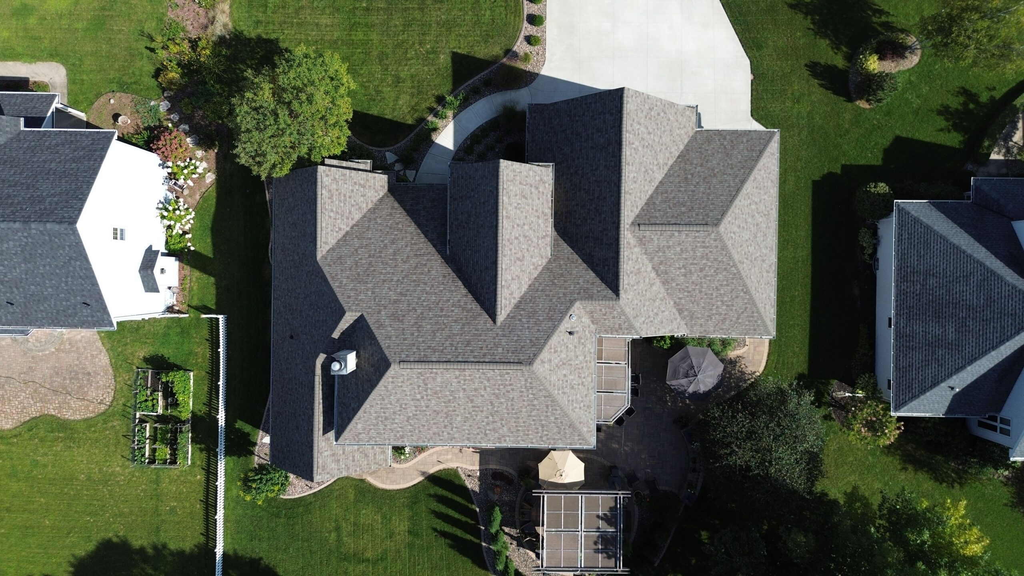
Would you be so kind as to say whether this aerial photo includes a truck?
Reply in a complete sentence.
No, there appears to be no truck in this shot.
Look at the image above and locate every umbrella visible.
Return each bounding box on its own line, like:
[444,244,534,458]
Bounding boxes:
[668,346,723,402]
[539,449,584,494]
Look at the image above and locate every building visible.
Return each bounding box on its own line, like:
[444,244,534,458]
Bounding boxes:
[878,177,1024,460]
[268,88,781,482]
[0,91,178,337]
